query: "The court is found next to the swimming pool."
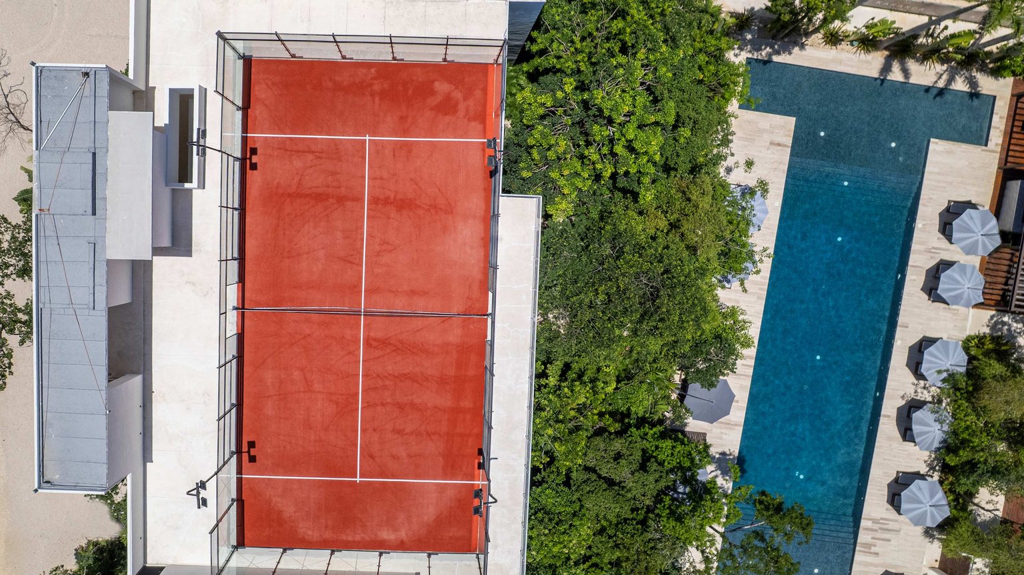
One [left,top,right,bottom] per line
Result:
[236,57,495,555]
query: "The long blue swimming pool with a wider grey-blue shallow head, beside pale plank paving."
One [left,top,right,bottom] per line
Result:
[715,56,998,575]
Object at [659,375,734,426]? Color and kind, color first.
gray umbrella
